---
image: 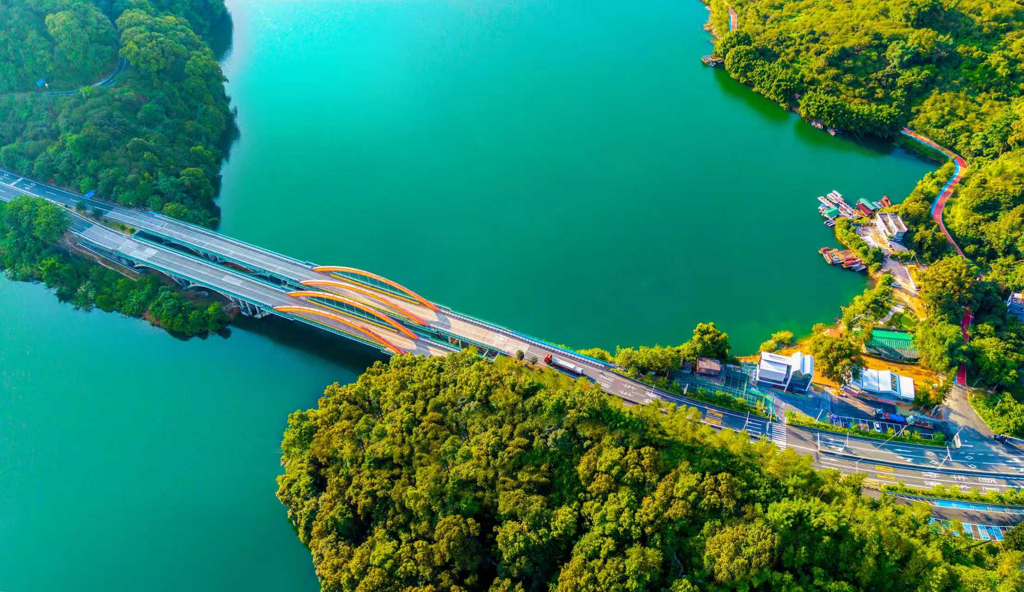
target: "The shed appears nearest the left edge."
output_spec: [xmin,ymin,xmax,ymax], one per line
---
[696,357,723,377]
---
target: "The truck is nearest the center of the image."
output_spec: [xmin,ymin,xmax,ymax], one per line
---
[545,354,588,376]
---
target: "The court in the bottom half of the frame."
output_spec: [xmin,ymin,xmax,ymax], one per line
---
[691,363,781,413]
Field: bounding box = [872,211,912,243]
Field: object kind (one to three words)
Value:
house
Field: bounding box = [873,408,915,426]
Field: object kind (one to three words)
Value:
vehicle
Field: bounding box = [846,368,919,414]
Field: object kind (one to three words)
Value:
building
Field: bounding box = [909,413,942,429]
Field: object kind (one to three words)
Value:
vehicle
